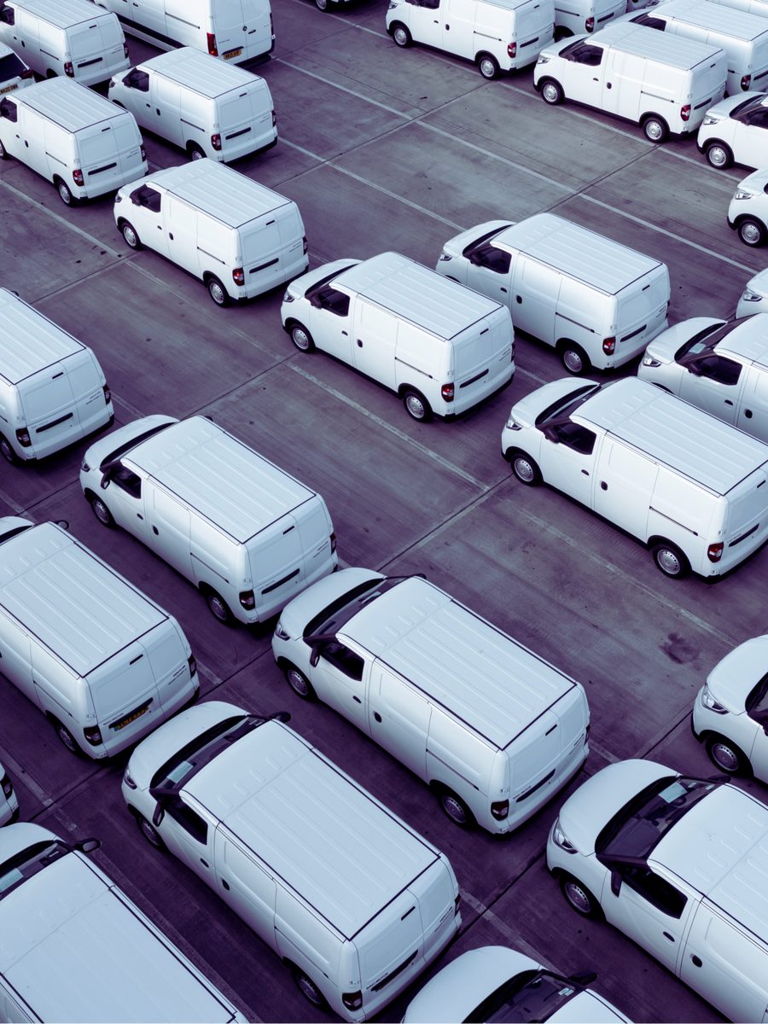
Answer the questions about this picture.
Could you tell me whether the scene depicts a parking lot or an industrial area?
parking lot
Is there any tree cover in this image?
No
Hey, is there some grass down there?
No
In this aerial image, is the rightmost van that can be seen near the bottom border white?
Yes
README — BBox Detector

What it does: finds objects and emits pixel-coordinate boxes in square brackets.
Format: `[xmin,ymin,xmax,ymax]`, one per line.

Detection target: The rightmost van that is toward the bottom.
[692,636,768,792]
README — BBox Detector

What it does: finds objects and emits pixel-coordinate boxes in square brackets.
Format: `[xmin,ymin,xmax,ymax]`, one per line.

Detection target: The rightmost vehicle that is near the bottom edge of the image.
[545,760,768,1024]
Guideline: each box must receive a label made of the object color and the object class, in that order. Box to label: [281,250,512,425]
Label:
white van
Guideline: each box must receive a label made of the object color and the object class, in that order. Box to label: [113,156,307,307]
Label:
white van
